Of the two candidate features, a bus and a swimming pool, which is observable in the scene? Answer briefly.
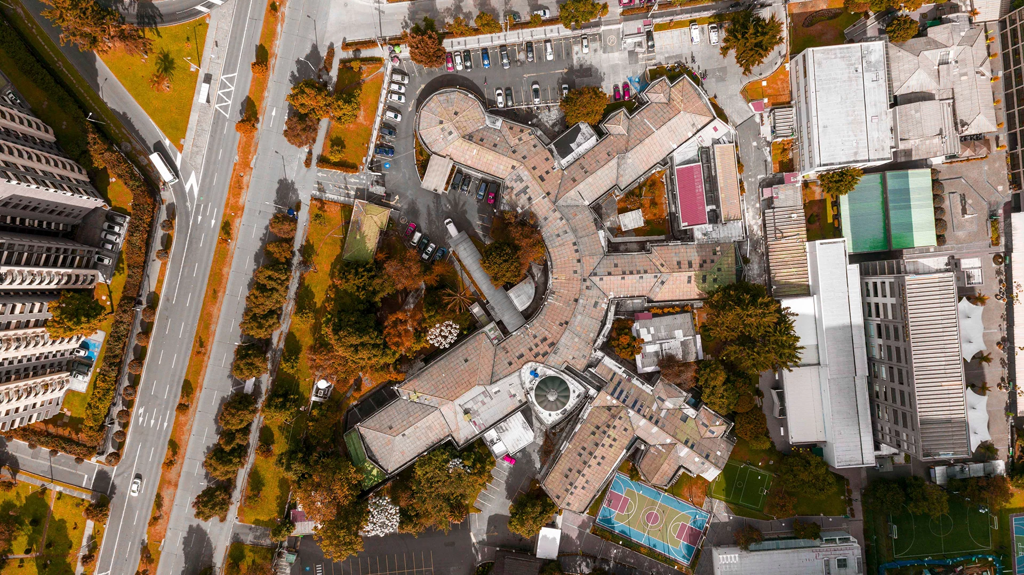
bus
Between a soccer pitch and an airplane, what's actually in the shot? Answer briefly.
soccer pitch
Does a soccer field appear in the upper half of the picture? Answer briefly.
No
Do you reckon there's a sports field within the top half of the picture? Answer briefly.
No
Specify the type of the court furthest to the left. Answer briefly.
basketball court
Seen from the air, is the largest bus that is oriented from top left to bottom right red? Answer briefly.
No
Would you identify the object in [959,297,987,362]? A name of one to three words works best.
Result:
tent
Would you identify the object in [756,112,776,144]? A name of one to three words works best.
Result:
building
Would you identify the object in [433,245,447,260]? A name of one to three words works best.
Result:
car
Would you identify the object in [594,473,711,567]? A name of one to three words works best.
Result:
basketball court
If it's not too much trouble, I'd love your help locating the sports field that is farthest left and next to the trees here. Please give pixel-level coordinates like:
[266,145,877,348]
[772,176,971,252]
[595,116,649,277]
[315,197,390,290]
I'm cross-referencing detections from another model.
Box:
[709,460,774,513]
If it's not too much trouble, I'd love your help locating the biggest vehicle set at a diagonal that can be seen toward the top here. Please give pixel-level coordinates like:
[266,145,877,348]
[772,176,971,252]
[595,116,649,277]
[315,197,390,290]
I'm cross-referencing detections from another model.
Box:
[149,150,183,189]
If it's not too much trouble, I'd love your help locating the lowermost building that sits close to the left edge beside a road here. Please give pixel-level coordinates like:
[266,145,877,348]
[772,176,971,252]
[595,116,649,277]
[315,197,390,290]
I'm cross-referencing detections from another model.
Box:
[0,229,104,430]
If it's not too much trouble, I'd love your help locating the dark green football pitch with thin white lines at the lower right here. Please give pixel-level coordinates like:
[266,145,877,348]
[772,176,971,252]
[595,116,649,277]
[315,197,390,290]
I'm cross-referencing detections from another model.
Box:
[891,479,1013,573]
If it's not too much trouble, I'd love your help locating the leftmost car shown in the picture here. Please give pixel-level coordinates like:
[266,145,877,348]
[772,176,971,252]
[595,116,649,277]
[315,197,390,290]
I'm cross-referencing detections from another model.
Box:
[5,92,23,108]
